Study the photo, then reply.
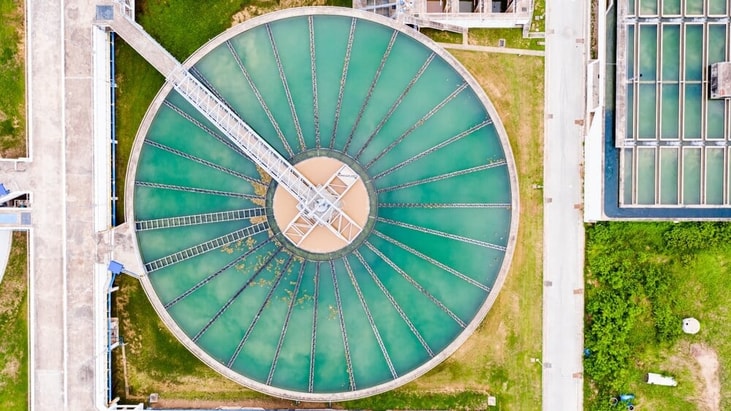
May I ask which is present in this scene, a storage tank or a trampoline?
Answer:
storage tank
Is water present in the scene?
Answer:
Yes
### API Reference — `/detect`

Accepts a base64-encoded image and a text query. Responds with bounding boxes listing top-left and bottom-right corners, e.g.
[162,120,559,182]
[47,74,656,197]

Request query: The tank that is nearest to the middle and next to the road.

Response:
[125,7,520,402]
